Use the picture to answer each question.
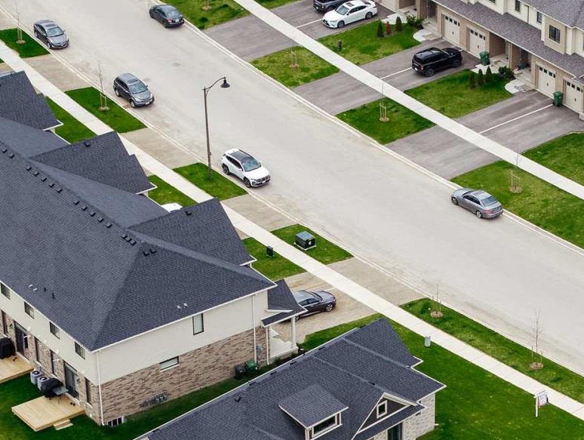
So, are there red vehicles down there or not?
No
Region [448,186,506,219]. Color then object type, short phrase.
gray car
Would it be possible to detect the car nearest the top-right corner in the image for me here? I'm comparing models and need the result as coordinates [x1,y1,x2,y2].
[411,46,465,77]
